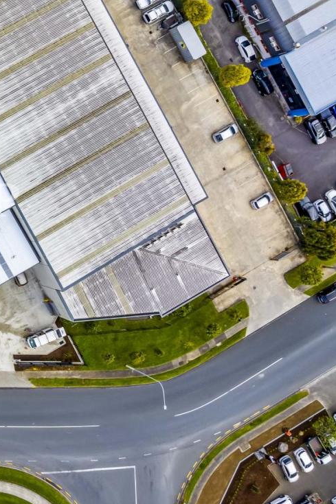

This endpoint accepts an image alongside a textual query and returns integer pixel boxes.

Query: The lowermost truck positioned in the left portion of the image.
[27,326,68,347]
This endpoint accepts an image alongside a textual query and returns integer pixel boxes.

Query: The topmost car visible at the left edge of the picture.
[15,270,30,287]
